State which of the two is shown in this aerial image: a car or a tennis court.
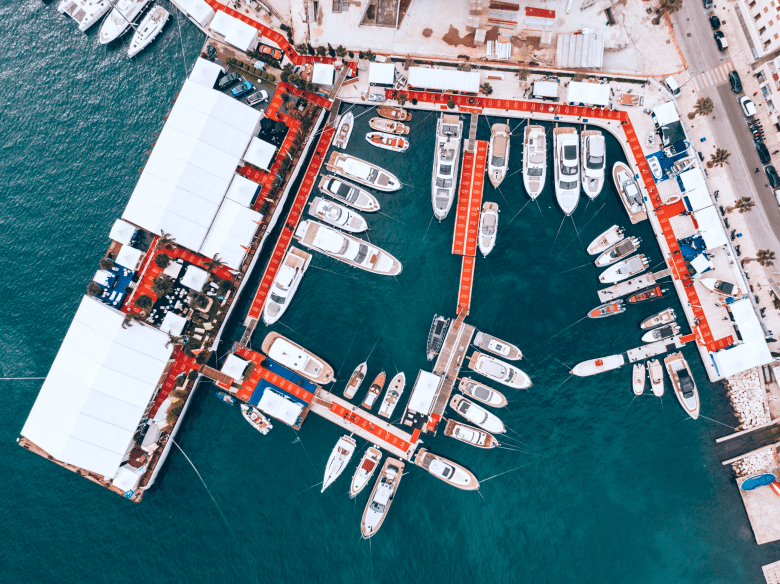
car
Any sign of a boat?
Yes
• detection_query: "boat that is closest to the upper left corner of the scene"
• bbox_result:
[61,0,118,37]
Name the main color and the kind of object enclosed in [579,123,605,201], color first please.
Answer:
white boat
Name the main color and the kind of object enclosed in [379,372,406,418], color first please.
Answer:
white boat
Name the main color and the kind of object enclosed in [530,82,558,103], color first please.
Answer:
white tent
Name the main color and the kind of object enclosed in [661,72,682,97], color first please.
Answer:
white vehicle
